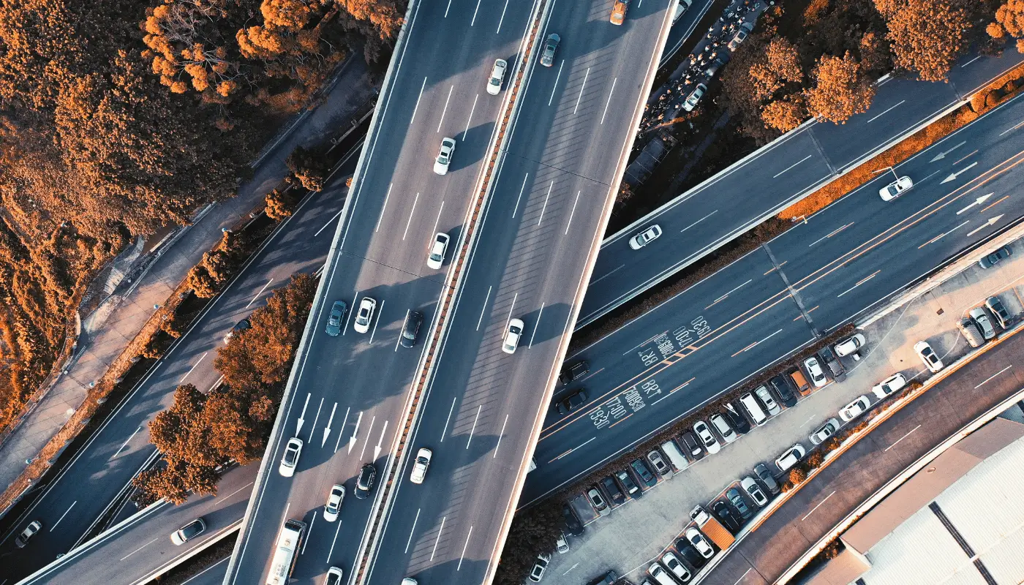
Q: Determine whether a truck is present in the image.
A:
Yes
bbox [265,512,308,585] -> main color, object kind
white bus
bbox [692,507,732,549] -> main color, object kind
orange truck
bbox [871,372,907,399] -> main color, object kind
white car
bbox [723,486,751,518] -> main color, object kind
blue car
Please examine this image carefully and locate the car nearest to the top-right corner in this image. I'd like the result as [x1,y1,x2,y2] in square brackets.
[876,176,912,201]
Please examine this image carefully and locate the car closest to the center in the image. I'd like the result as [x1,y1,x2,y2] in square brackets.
[502,317,523,354]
